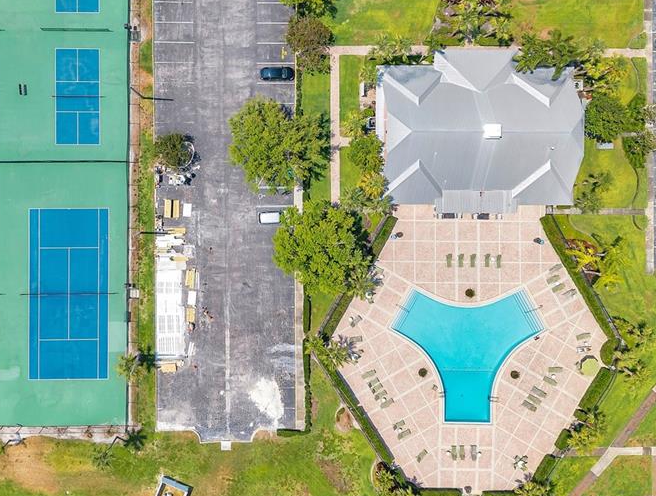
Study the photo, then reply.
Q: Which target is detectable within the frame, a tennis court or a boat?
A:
tennis court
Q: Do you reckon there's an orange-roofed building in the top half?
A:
No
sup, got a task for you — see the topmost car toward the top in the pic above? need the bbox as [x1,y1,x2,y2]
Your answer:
[261,64,295,81]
